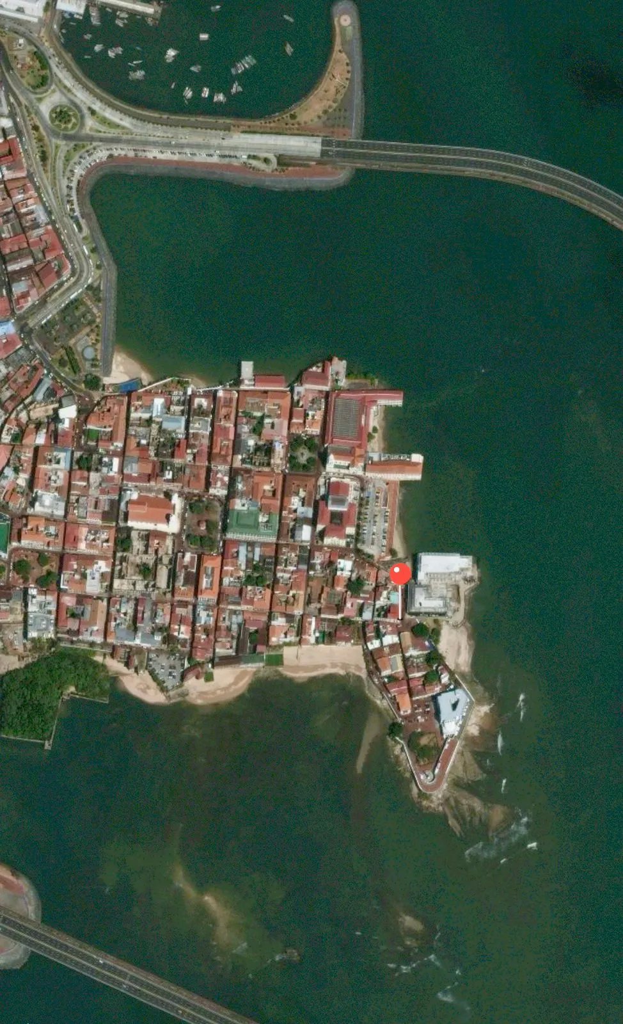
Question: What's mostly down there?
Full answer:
The scene is dominated by water.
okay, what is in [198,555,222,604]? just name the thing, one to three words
building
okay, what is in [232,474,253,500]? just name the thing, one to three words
house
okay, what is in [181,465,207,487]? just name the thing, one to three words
house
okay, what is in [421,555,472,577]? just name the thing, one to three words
building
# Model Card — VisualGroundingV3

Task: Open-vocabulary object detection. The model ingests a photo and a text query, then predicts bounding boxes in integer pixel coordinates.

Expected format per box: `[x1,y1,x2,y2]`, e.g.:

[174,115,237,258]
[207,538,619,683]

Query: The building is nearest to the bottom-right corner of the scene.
[438,689,470,743]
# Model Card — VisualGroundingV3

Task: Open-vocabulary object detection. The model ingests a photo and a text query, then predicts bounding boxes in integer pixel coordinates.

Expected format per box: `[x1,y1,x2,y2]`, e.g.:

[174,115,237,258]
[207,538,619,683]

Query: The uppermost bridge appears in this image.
[320,140,623,229]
